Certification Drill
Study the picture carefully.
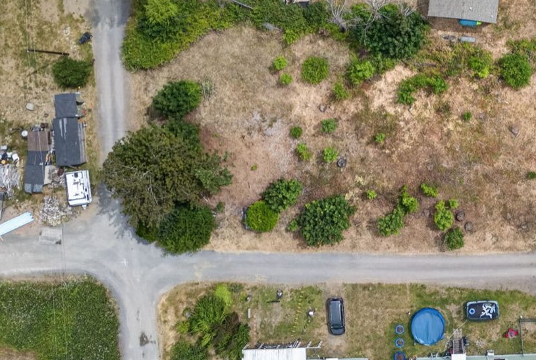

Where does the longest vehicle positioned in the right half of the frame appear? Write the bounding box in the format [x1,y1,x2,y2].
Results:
[326,298,344,337]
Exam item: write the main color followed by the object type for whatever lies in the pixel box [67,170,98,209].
white trailer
